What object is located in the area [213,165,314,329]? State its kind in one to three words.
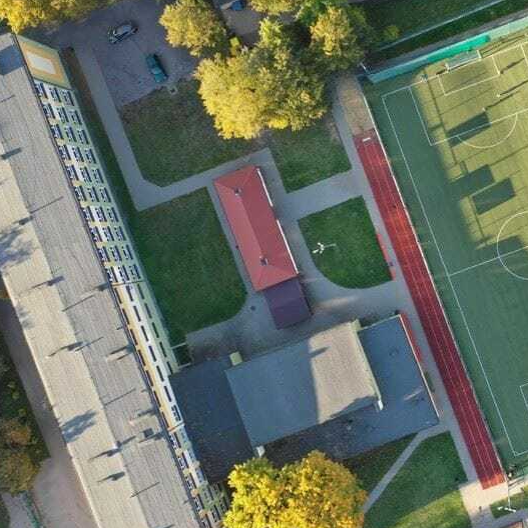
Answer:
house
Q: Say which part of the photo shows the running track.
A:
right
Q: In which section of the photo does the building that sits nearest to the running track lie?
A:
bottom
